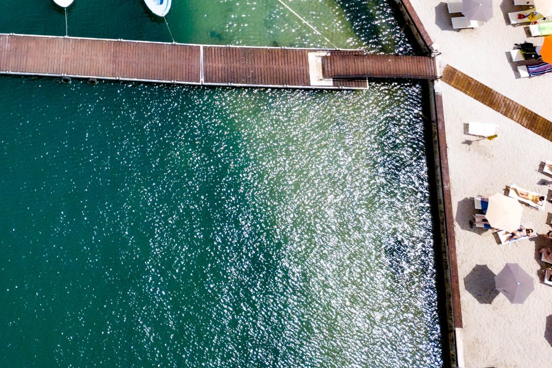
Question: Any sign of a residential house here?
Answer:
No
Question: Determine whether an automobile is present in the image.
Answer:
No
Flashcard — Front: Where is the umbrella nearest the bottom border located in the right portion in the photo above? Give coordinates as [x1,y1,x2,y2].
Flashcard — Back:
[494,265,534,303]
